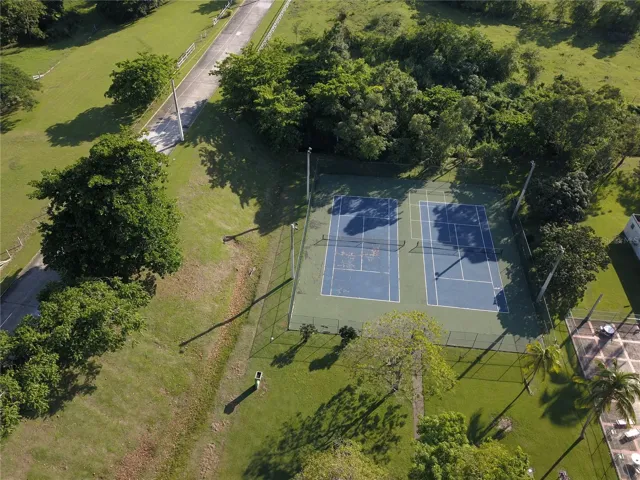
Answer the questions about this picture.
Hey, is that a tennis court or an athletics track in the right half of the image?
tennis court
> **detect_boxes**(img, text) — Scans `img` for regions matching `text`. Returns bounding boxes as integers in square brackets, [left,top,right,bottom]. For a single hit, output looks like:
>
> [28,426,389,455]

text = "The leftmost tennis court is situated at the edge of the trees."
[321,195,399,301]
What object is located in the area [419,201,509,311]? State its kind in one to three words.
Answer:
tennis court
